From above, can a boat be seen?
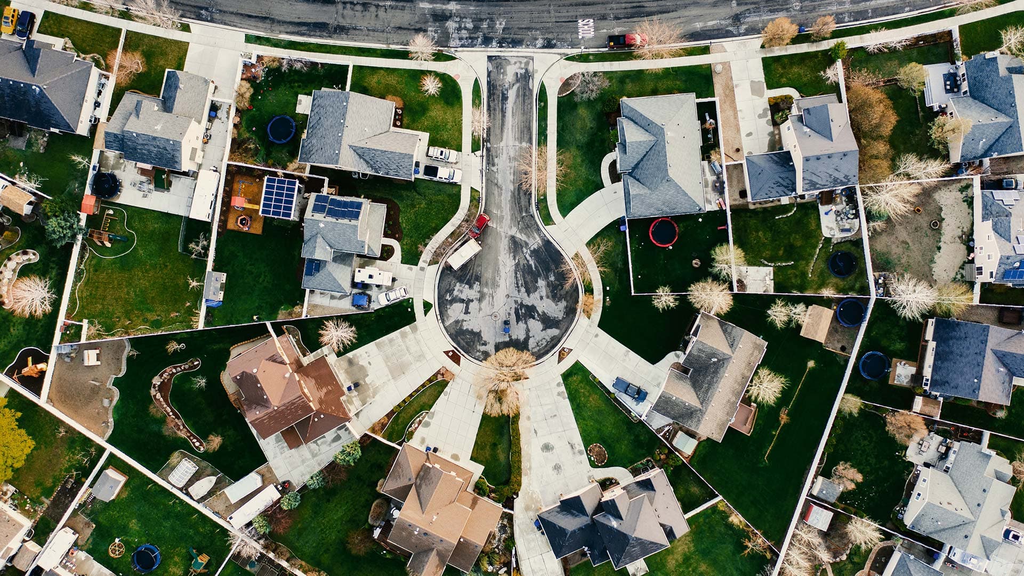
Yes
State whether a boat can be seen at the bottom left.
Yes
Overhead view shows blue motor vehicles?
Yes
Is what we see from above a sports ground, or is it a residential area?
residential area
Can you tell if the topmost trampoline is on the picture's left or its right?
left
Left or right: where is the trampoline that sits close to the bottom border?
left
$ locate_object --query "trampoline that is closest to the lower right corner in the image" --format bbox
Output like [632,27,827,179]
[858,351,889,381]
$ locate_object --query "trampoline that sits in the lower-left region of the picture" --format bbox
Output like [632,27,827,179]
[126,543,162,576]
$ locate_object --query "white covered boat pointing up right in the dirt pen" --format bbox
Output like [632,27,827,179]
[186,478,217,502]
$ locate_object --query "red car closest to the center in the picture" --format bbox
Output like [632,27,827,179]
[469,212,491,240]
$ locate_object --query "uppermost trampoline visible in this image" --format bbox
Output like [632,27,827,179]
[267,115,296,144]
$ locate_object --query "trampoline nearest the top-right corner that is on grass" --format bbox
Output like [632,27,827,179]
[828,249,863,279]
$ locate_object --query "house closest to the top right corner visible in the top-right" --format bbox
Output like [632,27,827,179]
[934,53,1024,164]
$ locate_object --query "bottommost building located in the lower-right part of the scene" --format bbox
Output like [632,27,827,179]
[879,548,948,576]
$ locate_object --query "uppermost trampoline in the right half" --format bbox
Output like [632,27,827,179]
[648,217,679,247]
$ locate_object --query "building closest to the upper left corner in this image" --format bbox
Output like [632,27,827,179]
[0,38,102,134]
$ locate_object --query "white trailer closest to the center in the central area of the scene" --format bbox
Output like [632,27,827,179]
[445,237,486,272]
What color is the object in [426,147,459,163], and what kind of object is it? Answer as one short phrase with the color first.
white car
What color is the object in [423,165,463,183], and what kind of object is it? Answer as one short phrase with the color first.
white vehicle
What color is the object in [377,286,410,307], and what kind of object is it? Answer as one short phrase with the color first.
white car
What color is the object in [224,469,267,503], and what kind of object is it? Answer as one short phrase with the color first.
white trailer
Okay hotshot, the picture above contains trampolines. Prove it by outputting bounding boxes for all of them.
[126,543,162,576]
[267,115,296,144]
[858,351,889,381]
[834,298,866,328]
[84,168,123,200]
[828,249,863,279]
[648,217,679,247]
